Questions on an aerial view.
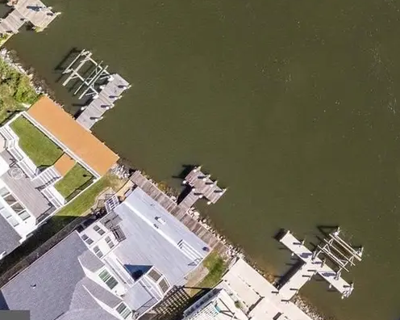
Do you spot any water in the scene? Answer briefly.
Yes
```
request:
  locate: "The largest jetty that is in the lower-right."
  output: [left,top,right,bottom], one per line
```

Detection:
[277,231,355,307]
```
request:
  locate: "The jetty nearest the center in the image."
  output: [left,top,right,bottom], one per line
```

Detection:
[178,165,230,212]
